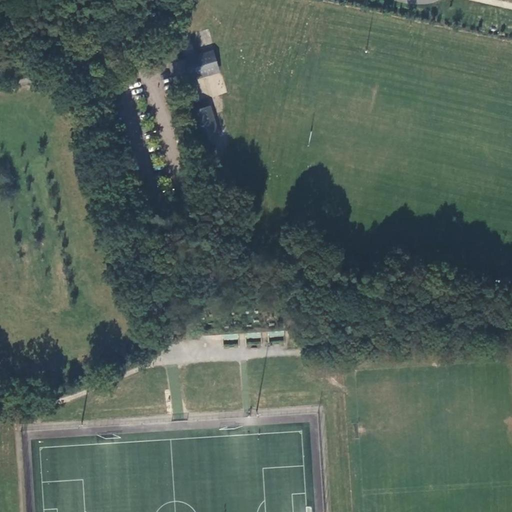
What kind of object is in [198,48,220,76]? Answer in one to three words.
building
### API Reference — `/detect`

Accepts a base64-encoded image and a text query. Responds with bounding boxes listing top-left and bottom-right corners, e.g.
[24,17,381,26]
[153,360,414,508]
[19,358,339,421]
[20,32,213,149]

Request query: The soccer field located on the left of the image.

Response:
[31,423,316,512]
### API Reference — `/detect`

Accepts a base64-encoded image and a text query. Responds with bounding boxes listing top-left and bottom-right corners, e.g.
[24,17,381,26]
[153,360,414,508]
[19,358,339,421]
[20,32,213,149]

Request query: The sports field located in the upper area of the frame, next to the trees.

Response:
[196,0,512,287]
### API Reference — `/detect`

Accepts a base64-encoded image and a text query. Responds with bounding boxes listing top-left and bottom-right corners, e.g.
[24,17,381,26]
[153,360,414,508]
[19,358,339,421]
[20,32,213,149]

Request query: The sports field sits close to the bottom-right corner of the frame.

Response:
[357,362,512,512]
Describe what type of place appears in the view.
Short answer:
sports ground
